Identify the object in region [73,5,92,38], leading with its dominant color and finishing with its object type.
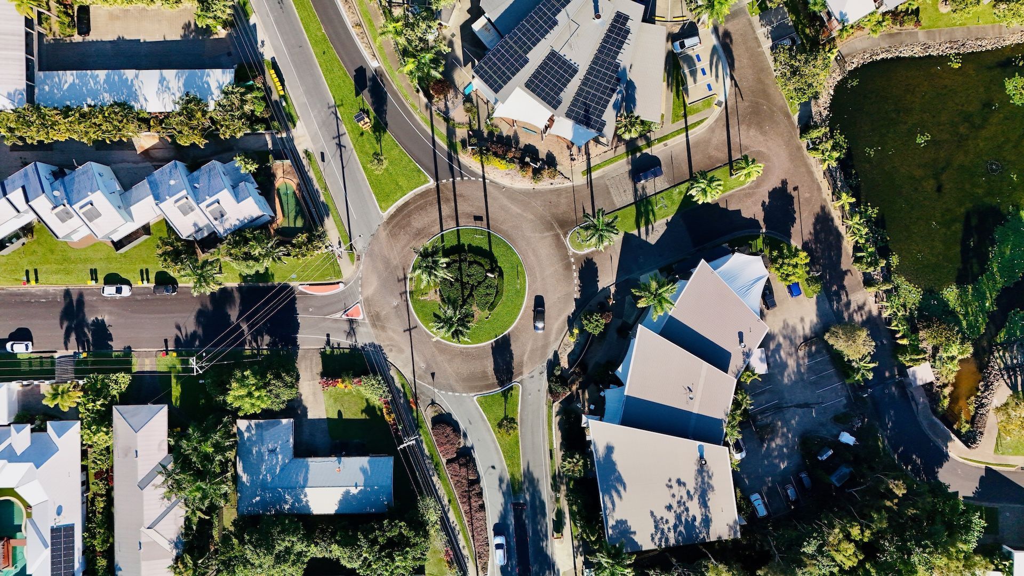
black car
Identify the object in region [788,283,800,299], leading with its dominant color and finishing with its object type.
blue vehicle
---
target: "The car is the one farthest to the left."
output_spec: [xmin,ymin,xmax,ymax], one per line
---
[5,341,35,355]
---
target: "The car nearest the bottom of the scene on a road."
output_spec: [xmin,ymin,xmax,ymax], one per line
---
[492,535,507,567]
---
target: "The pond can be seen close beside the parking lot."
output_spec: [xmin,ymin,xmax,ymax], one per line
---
[833,45,1024,430]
